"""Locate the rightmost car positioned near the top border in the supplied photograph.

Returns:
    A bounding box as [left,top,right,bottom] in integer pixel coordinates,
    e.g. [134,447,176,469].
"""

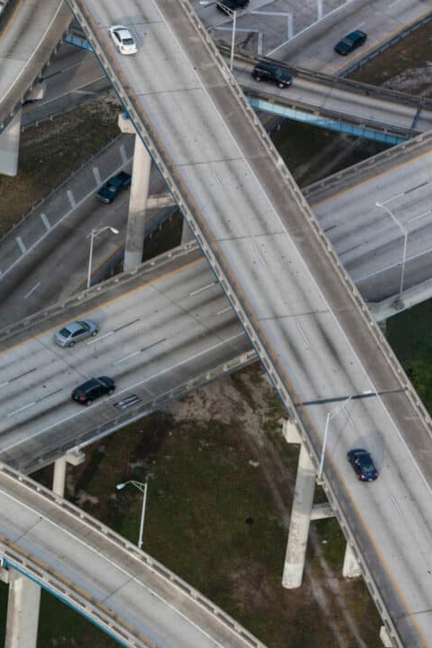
[334,31,367,53]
